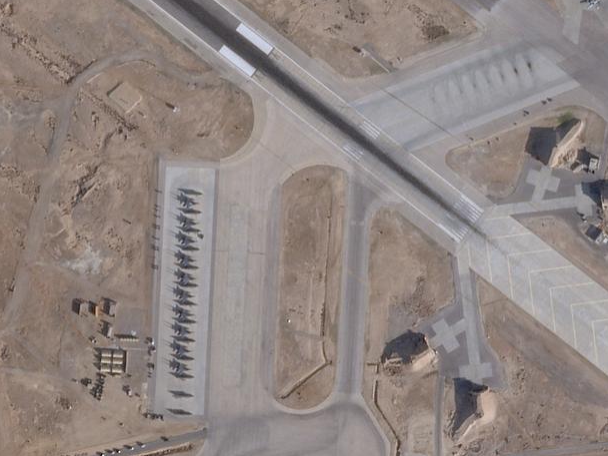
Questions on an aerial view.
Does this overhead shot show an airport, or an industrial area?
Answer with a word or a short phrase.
airport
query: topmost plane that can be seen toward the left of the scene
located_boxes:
[182,194,201,207]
